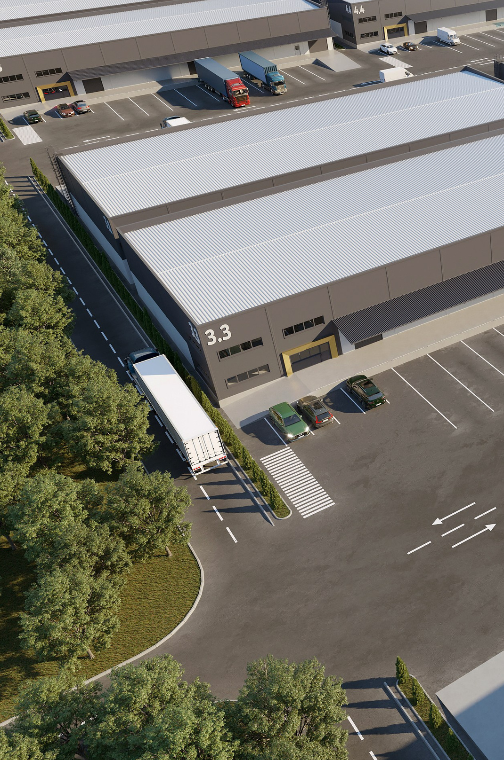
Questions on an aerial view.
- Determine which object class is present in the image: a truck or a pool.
truck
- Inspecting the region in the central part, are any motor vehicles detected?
Yes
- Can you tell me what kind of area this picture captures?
industrial area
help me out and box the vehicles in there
[438,28,460,45]
[72,101,91,114]
[24,111,42,124]
[55,104,74,116]
[239,52,292,93]
[195,56,253,106]
[268,401,310,441]
[128,346,227,474]
[345,376,386,409]
[400,40,420,51]
[380,71,411,84]
[296,394,336,428]
[150,115,188,132]
[379,42,398,54]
